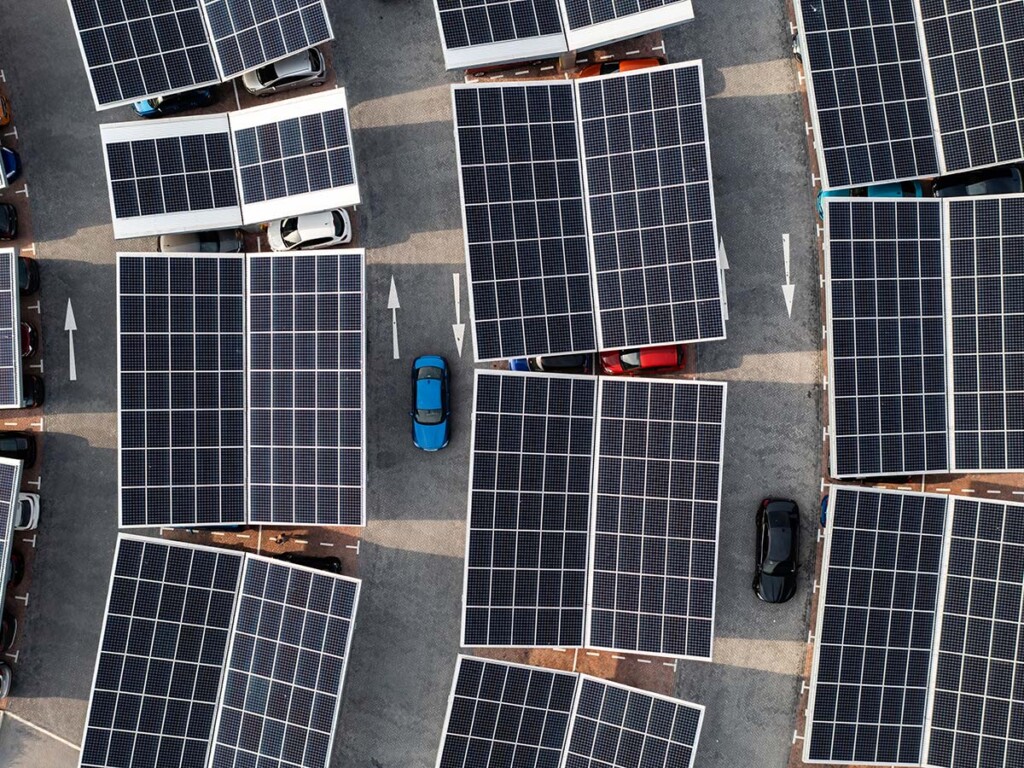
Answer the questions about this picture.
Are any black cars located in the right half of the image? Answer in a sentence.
Yes, a black car can be seen in the right half of the image.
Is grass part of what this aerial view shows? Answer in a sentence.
No, the scene doesn't show any grass.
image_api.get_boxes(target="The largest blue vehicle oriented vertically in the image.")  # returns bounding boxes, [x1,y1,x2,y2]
[407,355,452,451]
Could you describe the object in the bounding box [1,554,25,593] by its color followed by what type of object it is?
black car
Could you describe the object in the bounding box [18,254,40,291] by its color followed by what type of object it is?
black car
